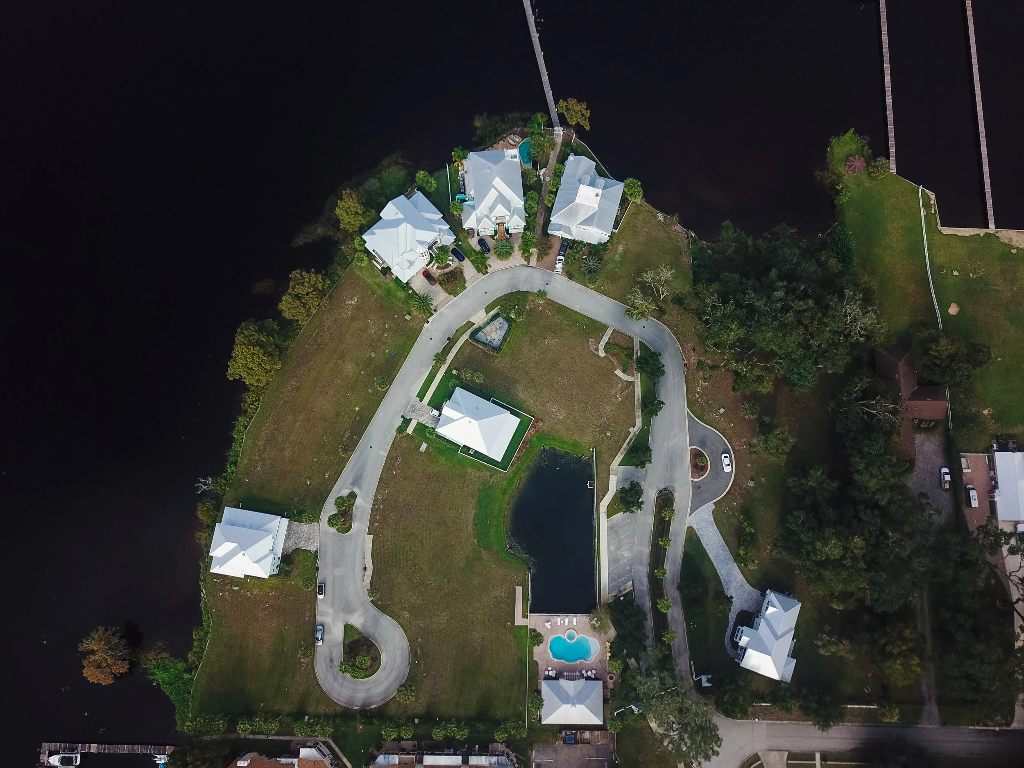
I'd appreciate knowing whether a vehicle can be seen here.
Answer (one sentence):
Yes, a vehicle appears in the view.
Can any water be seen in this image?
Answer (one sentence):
Yes, some water is visible.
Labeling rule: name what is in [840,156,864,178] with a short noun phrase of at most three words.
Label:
gazebo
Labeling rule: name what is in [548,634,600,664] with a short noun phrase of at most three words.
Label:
swimming pool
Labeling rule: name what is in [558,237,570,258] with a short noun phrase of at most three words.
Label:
vehicle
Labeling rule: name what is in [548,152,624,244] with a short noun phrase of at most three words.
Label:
house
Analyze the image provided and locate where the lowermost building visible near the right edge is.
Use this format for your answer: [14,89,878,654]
[989,440,1024,521]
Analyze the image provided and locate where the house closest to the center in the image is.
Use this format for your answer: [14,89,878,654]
[435,387,520,462]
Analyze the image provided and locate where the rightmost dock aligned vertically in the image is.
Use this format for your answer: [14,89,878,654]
[961,0,996,230]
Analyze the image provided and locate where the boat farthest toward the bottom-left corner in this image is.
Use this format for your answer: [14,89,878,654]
[47,754,82,766]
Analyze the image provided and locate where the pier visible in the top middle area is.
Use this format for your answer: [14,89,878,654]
[525,0,560,130]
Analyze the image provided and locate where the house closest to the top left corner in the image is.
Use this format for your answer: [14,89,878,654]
[362,188,456,283]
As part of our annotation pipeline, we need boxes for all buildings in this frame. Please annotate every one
[435,387,520,462]
[548,152,624,244]
[362,188,456,283]
[734,589,801,683]
[209,506,292,578]
[456,148,526,242]
[227,738,337,768]
[989,440,1024,521]
[871,346,947,458]
[699,670,714,686]
[541,678,603,724]
[363,743,516,768]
